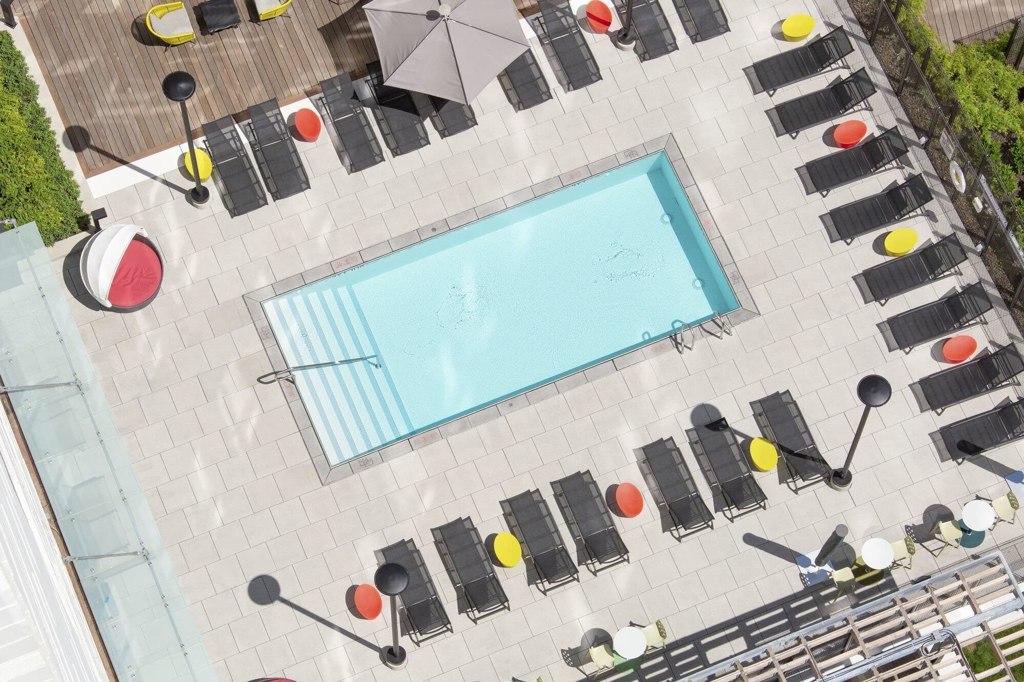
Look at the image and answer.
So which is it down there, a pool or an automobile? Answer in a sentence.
I can see a pool in this picture.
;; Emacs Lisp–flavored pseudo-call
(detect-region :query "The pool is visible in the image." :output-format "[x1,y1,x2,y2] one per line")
[244,134,758,483]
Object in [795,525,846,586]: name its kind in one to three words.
umbrella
